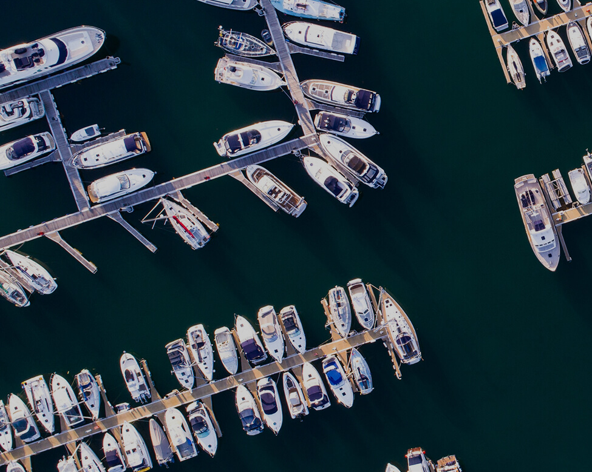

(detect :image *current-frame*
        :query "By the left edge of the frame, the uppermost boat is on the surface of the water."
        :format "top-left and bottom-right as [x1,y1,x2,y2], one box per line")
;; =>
[0,27,108,86]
